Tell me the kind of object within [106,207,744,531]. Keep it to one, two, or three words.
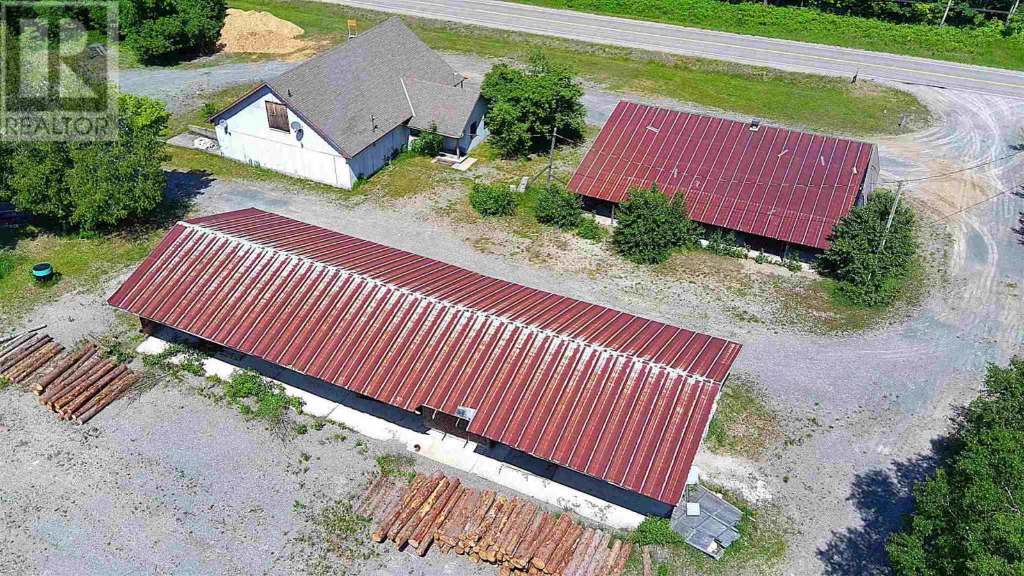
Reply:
shed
